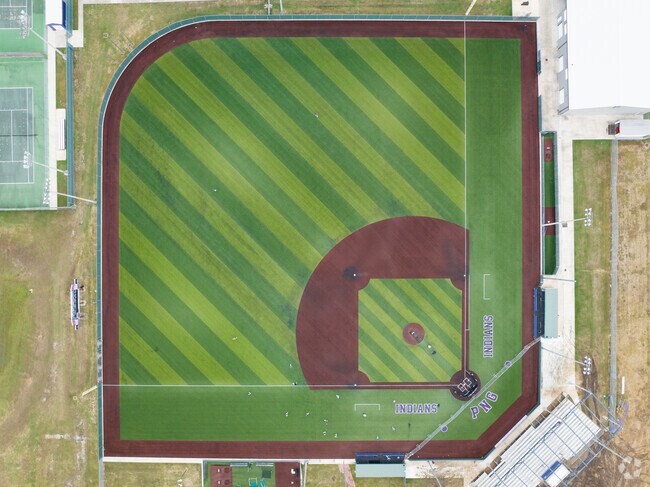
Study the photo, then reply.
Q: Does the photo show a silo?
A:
No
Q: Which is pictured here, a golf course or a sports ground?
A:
sports ground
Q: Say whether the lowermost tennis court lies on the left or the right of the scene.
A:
left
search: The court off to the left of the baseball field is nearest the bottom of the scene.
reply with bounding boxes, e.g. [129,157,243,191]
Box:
[0,87,36,183]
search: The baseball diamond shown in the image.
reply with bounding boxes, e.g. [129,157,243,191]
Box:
[102,20,541,459]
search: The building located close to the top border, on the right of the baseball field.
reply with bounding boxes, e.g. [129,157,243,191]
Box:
[557,0,650,114]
